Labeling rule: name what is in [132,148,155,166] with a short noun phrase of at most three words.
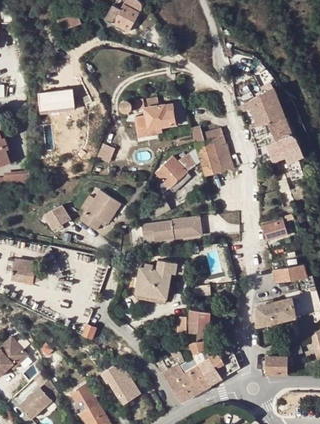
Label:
swimming pool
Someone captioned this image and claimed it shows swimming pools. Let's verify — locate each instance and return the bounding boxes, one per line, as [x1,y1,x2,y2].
[198,245,233,284]
[38,416,56,424]
[132,148,155,166]
[23,364,39,382]
[44,124,55,152]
